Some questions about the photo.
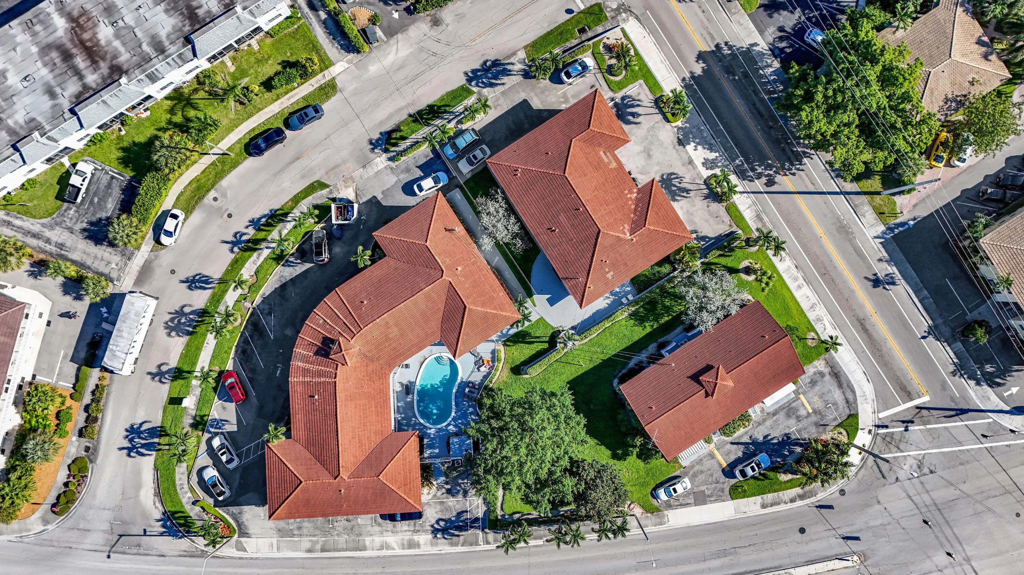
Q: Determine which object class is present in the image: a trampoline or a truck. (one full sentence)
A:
Looking from above, you can make out a truck.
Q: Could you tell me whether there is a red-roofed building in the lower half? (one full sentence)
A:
Yes, there is a red-roofed building in the lower half.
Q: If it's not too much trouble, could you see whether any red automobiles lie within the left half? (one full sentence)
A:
Yes, looking within the left half, one can make out a red automobile.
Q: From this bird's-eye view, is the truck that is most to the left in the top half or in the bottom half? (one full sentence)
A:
The truck that is most to the left sits in the top half of the picture.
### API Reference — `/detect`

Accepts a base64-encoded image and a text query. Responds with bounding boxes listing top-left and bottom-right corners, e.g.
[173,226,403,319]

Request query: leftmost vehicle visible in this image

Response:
[62,160,96,205]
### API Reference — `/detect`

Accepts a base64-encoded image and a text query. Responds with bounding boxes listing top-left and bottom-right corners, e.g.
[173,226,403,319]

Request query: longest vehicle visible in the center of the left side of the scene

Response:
[98,288,160,380]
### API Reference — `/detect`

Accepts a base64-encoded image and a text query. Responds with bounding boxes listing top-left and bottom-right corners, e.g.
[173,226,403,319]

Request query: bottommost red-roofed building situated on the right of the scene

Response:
[620,300,805,461]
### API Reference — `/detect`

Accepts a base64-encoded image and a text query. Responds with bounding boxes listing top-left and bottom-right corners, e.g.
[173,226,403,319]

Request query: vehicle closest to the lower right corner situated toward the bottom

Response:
[732,451,771,482]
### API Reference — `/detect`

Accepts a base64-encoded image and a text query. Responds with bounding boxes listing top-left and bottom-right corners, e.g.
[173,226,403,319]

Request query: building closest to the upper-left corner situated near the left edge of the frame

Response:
[0,0,293,195]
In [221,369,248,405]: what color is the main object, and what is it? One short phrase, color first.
red car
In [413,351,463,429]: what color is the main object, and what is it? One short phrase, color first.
blue swimming pool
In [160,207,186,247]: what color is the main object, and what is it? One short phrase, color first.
white car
